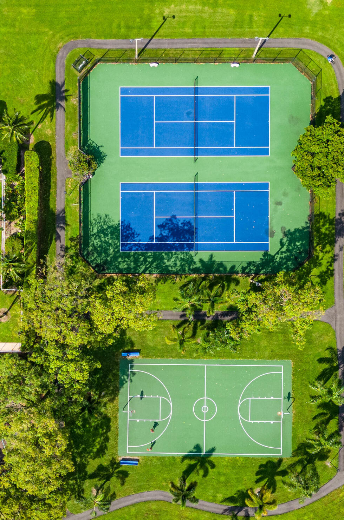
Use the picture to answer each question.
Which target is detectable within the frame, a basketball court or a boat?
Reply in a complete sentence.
The one in the frame is a basketball court.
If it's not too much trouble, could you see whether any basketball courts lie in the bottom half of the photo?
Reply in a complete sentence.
Yes, a basketball court appears in the bottom half of the photo.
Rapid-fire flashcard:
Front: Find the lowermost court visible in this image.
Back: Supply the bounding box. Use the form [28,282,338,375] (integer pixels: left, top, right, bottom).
[118,359,291,457]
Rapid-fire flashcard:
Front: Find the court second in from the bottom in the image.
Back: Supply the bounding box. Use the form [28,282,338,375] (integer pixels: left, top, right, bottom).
[80,169,312,274]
